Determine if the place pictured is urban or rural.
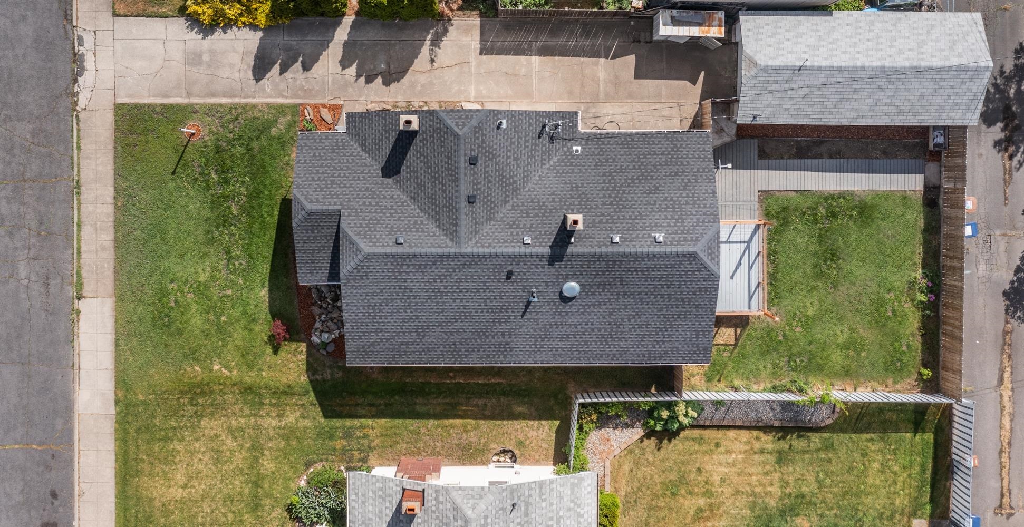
urban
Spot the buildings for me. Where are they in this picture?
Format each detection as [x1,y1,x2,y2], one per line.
[730,11,993,124]
[290,105,724,367]
[652,9,725,53]
[345,457,600,527]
